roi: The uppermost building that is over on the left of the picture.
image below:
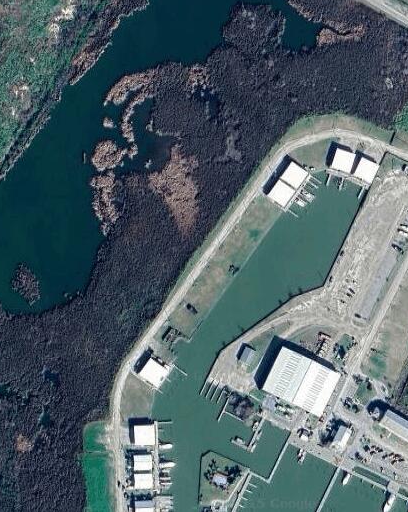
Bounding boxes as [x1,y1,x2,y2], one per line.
[138,358,168,387]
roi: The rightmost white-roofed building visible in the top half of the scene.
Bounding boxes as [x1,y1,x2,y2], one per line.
[352,156,380,184]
